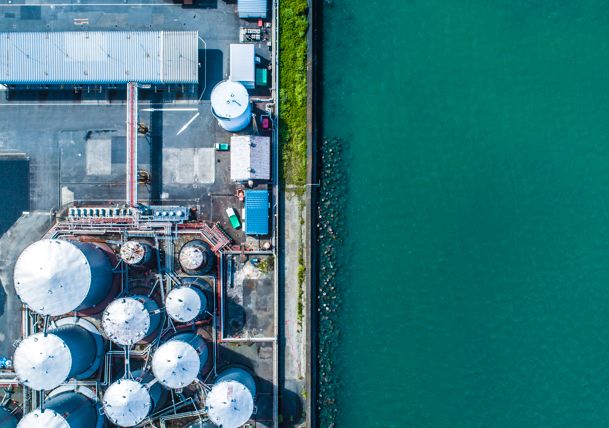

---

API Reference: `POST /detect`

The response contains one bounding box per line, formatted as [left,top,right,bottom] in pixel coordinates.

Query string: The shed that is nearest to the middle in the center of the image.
[243,190,270,235]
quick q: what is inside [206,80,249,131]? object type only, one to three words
storage tank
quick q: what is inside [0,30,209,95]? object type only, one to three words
building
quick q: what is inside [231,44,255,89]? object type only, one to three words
building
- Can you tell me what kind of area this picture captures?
industrial area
